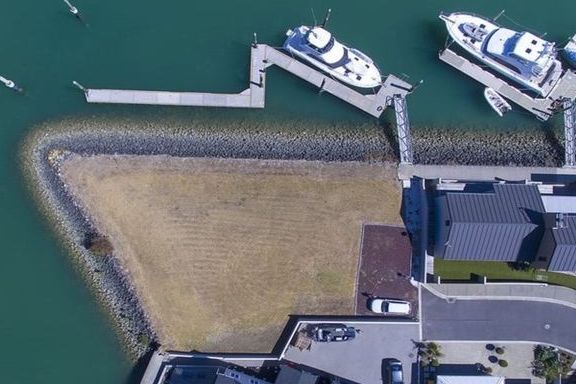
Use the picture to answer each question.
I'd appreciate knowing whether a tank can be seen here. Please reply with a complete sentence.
No, no tank is visible in the scene.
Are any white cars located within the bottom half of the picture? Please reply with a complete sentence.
Yes, looking within the bottom half of the picture, one can make out a white car.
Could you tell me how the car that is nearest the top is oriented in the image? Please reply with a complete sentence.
In this picture, the car that is nearest the top lies horizontally.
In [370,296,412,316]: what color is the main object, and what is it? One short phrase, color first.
white car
